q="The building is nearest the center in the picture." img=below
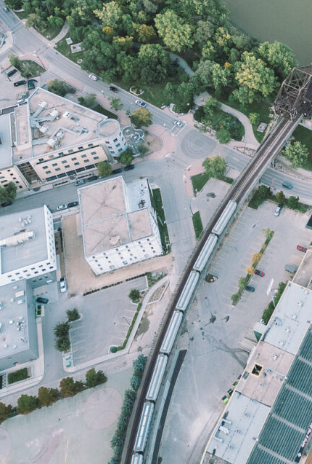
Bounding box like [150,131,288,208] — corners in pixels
[77,175,161,274]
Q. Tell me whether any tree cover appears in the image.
Yes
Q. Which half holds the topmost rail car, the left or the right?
right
